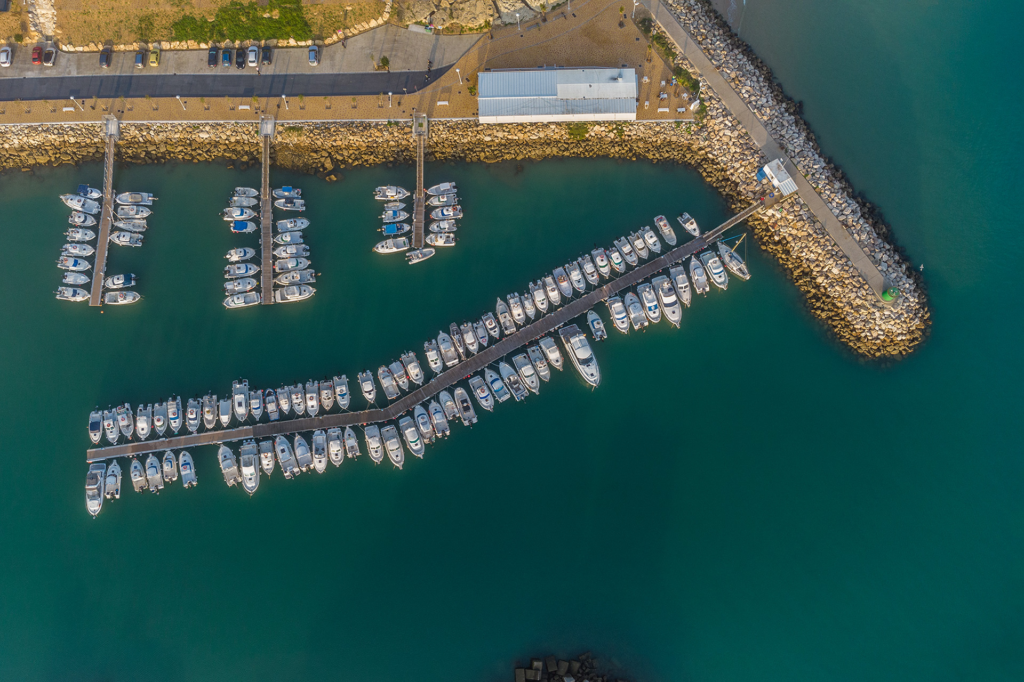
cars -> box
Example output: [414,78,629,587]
[42,48,56,65]
[133,50,146,67]
[97,48,112,67]
[148,48,161,66]
[206,47,218,67]
[220,48,232,66]
[307,45,318,65]
[233,48,246,69]
[0,46,12,66]
[246,46,258,66]
[260,45,271,64]
[29,46,42,63]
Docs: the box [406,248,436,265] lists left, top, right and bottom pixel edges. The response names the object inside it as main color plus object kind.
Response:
gray boat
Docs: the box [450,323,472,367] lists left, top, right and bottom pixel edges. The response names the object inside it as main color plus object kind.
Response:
gray boat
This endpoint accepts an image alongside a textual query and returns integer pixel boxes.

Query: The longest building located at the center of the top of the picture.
[478,64,639,124]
